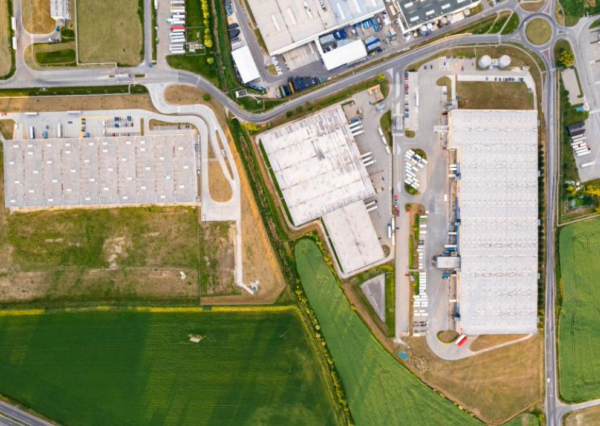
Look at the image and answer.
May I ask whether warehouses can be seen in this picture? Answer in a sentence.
Yes, the photo shows a warehouse.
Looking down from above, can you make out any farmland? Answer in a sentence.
Yes, the picture does contain farmland.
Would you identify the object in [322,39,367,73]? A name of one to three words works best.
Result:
shed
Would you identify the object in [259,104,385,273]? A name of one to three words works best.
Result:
warehouse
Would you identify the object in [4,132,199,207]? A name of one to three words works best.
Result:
building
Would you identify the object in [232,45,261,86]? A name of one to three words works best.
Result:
shed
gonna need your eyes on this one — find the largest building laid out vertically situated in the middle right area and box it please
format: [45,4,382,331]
[448,110,540,334]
